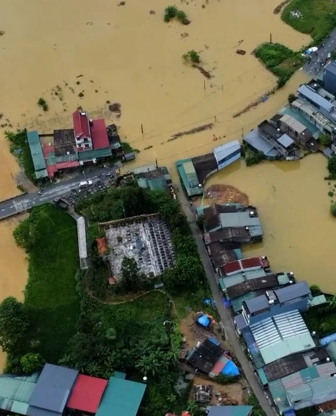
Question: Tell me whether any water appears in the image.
Yes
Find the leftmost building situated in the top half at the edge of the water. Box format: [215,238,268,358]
[27,130,50,186]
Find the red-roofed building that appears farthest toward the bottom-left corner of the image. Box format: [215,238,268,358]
[68,374,108,416]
